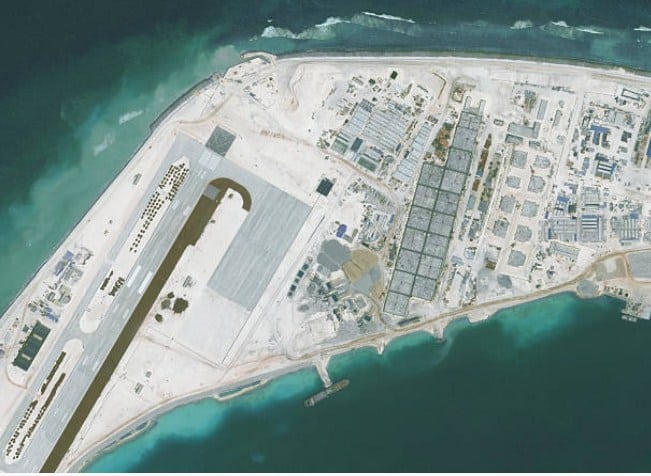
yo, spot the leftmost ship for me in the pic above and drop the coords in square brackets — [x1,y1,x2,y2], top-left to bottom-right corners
[303,381,349,407]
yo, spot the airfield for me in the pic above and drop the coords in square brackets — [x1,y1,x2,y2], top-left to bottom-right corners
[0,133,313,476]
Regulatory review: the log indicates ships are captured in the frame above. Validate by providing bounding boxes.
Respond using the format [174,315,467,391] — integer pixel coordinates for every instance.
[303,381,349,407]
[622,315,636,322]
